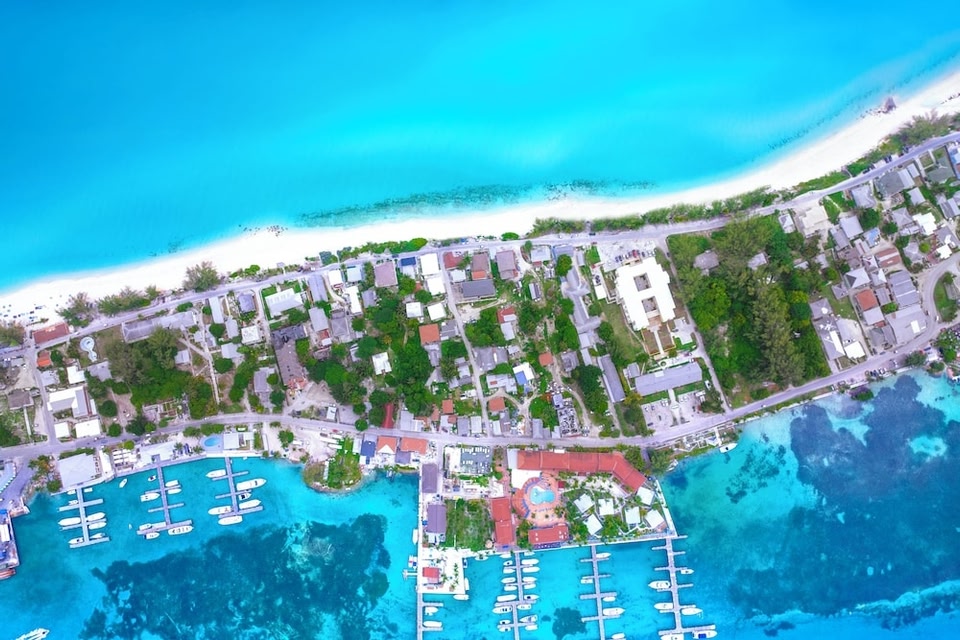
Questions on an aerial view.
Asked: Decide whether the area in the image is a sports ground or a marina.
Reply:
marina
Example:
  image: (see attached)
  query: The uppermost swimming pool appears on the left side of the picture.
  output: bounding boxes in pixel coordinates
[200,435,224,451]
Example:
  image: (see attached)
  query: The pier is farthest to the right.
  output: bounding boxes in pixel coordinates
[651,534,716,636]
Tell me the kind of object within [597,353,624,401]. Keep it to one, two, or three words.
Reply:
building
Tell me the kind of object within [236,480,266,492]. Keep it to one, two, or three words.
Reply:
boat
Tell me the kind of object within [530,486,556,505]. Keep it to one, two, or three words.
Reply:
swimming pool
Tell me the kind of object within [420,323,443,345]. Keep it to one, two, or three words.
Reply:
house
